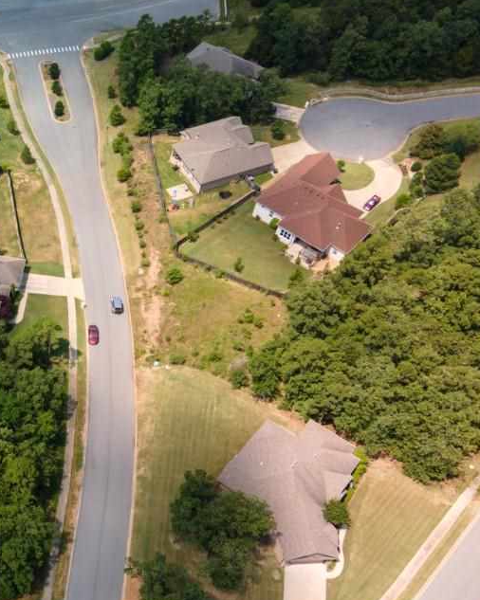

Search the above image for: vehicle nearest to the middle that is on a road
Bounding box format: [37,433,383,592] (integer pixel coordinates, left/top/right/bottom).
[110,295,124,314]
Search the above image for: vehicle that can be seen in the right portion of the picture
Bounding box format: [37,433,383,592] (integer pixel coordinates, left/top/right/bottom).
[364,197,380,210]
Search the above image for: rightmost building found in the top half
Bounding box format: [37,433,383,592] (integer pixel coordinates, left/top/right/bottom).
[255,153,379,262]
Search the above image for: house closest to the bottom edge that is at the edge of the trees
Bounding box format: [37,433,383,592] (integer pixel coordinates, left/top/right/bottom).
[219,419,361,573]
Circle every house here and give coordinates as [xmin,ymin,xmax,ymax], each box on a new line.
[0,256,26,300]
[255,153,379,262]
[174,116,294,192]
[219,419,361,573]
[187,42,264,91]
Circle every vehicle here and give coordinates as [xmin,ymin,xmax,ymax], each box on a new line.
[364,197,380,210]
[89,325,100,345]
[110,295,124,314]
